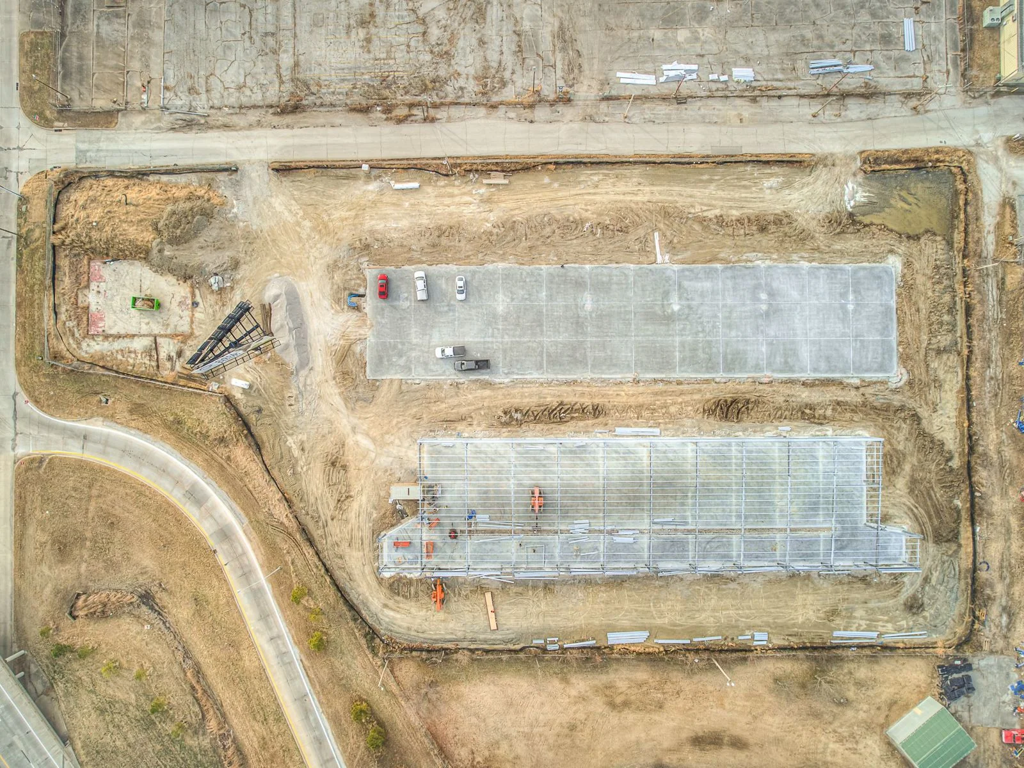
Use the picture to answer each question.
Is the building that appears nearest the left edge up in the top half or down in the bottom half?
bottom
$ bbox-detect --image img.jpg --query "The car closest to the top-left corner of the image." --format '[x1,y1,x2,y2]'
[374,274,387,300]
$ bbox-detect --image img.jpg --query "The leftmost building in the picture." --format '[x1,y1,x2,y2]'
[379,436,924,571]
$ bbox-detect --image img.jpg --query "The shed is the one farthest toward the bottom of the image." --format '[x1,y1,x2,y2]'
[887,696,977,768]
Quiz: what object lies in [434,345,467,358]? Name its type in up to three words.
vehicle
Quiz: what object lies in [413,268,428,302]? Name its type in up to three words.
vehicle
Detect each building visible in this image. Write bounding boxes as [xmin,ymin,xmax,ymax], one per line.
[887,696,977,768]
[999,0,1024,85]
[379,436,924,571]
